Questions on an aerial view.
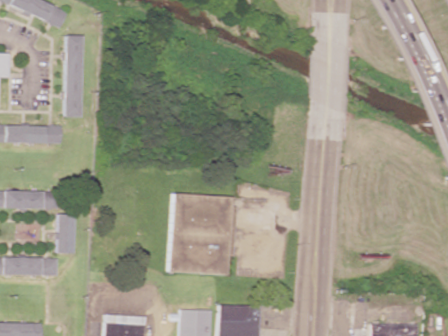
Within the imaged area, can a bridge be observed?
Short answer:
Yes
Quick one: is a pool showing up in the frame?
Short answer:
No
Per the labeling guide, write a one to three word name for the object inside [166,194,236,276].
building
